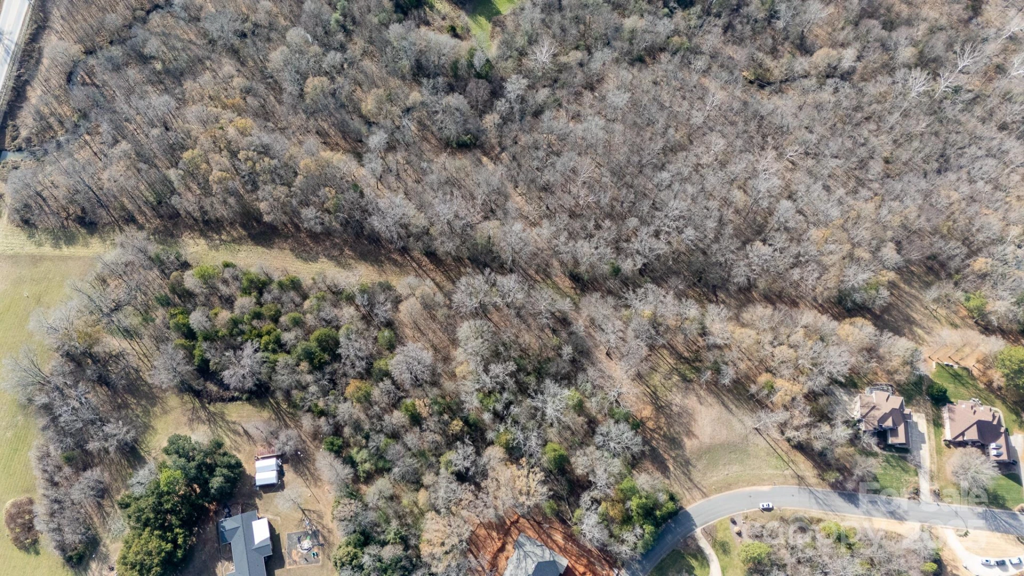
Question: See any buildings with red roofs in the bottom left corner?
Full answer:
No, there's no building with a red roof to be seen in the bottom left corner.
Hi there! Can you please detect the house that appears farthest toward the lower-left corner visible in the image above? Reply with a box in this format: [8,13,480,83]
[219,510,274,576]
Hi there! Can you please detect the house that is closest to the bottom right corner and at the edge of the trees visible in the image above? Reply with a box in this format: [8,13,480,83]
[942,400,1011,464]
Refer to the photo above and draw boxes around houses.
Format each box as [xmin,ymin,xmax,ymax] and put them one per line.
[219,510,274,576]
[503,533,568,576]
[942,400,1011,464]
[854,391,912,450]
